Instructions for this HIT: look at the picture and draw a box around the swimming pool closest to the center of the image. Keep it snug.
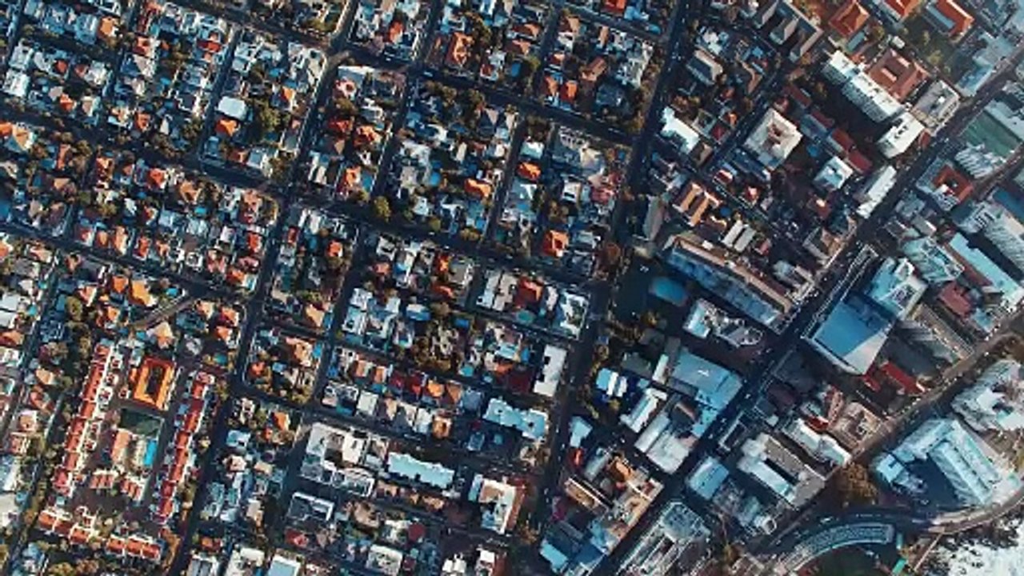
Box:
[515,309,534,322]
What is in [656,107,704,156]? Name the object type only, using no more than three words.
house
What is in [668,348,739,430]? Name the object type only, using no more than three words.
building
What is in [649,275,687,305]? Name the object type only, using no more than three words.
swimming pool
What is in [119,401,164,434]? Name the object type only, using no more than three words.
tennis court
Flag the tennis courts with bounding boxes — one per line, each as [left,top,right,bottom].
[119,401,164,434]
[967,111,1018,159]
